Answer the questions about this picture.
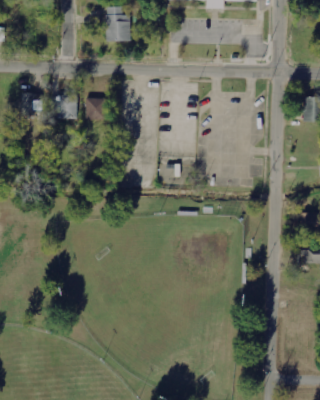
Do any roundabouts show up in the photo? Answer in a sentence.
No, the photo shows no roundabout.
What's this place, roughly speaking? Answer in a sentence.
The picture captures a sports ground.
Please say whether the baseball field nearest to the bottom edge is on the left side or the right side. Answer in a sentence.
The baseball field nearest to the bottom edge is on the left side of the image.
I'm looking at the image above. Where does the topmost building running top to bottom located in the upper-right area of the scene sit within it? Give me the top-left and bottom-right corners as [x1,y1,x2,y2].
[304,96,316,122]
